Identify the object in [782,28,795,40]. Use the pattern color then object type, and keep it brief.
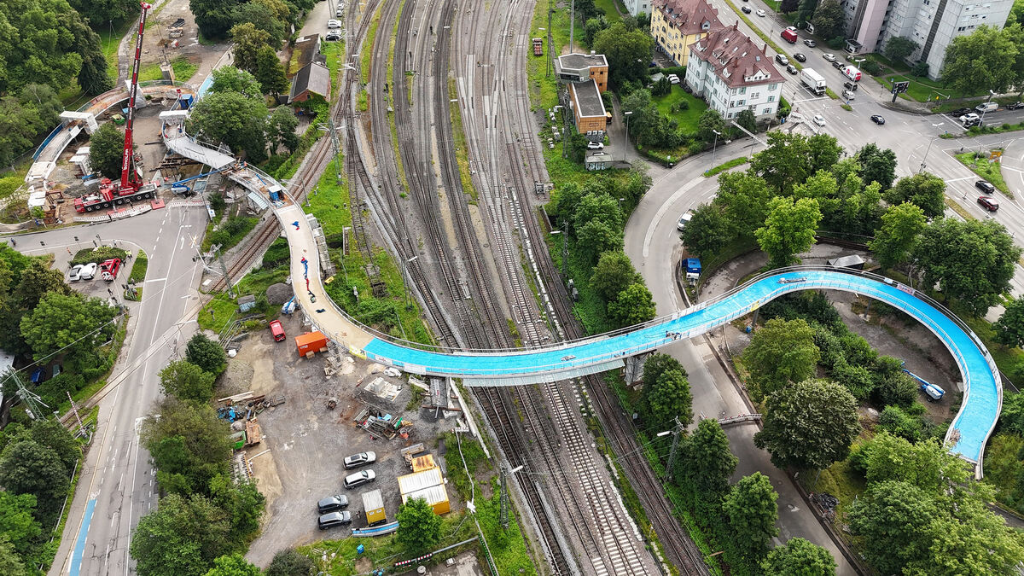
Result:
red vehicle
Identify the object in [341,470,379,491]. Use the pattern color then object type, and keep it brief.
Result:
white car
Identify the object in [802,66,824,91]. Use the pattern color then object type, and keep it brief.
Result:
white truck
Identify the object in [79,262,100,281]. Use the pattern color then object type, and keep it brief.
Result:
white vehicle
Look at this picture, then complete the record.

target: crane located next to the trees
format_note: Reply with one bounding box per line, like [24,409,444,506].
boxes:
[68,0,162,219]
